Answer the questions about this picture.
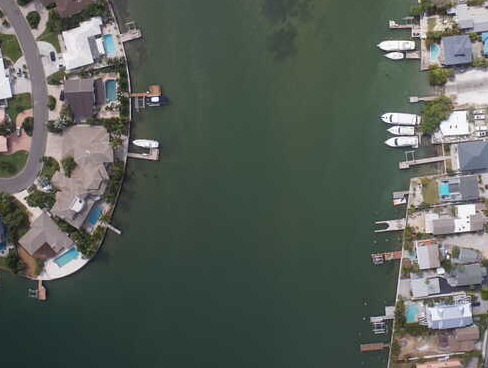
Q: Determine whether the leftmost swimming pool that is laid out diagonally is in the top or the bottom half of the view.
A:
bottom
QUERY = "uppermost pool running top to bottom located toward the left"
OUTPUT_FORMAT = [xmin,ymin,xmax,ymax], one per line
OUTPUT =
[103,33,115,54]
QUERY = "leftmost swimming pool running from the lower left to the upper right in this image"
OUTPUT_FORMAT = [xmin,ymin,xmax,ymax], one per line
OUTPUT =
[53,248,80,268]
